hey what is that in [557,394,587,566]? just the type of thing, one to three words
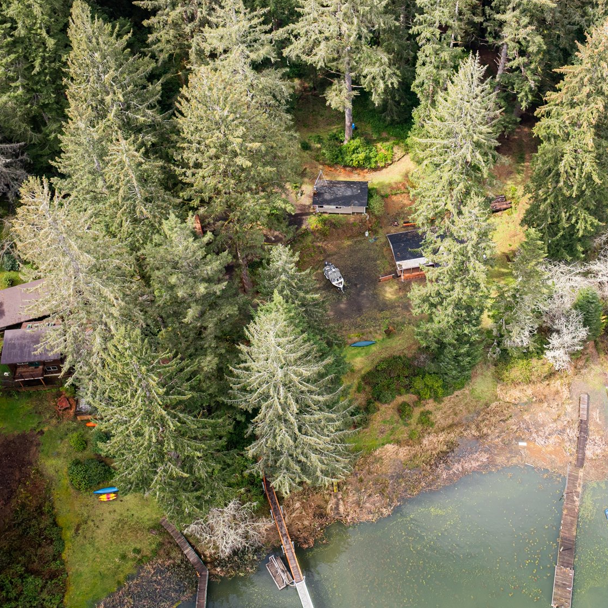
pier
